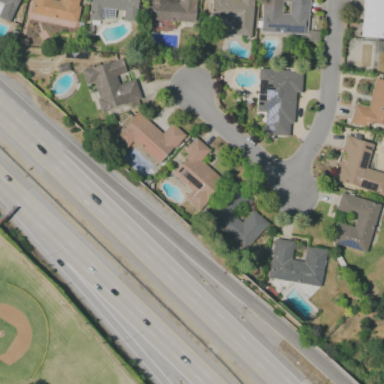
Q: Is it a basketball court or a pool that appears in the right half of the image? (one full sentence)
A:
Looking in the right half of the image, you will find a pool.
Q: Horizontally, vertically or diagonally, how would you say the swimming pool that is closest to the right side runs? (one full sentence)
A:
In this picture, the swimming pool that is closest to the right side is oriented diagonally.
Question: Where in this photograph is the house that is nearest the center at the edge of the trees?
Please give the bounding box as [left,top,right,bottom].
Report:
[173,138,223,212]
